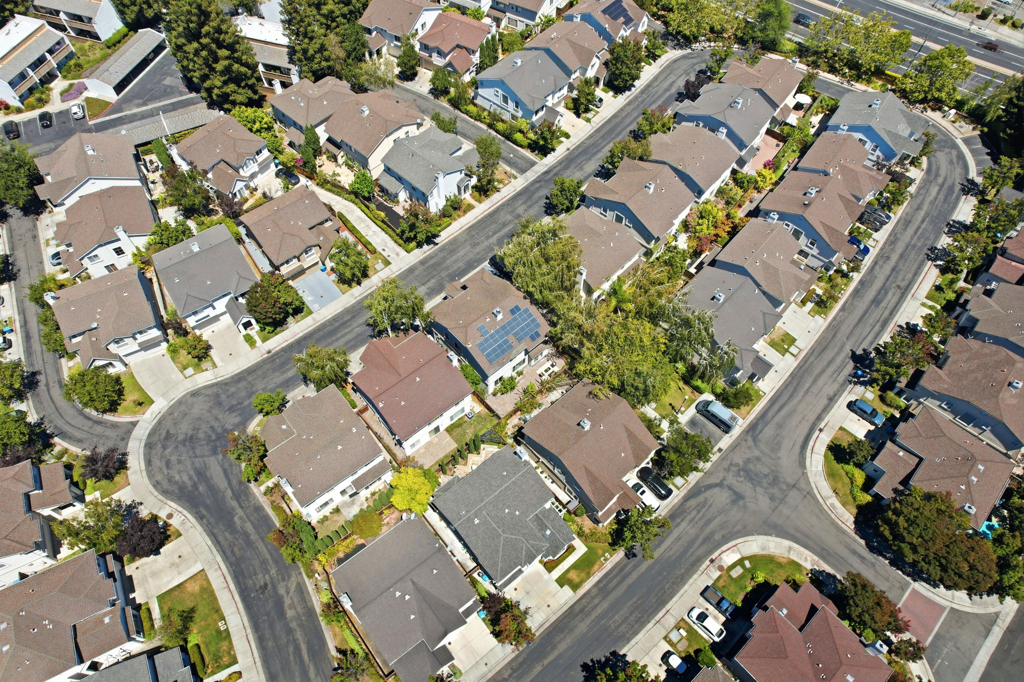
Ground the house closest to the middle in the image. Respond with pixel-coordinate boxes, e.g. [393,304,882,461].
[430,269,551,391]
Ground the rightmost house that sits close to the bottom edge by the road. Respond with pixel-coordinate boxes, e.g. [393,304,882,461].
[723,582,894,682]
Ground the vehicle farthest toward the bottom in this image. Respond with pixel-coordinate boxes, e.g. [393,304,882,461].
[656,645,690,681]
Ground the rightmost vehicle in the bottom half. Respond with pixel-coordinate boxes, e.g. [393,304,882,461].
[847,398,884,426]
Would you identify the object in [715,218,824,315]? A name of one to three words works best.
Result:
house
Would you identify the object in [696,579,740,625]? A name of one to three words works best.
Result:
truck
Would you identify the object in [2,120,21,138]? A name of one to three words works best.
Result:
car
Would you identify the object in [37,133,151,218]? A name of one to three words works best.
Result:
house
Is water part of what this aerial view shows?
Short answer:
No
